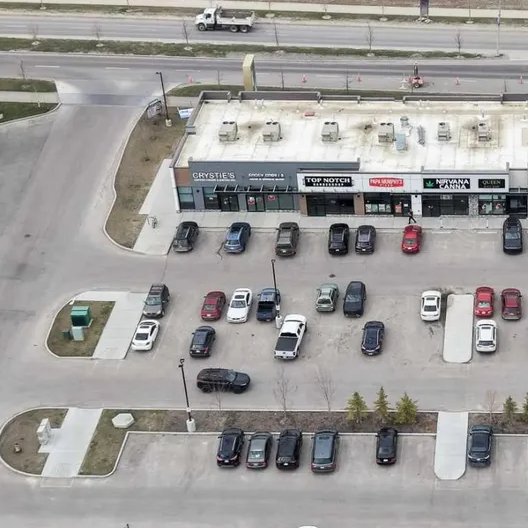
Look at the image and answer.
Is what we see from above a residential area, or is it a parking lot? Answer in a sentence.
It's a parking lot.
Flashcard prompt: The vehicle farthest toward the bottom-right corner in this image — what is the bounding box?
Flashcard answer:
[467,428,494,469]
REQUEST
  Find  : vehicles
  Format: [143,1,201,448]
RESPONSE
[142,283,169,319]
[194,369,253,395]
[216,430,245,470]
[316,283,340,315]
[276,432,304,471]
[500,290,523,321]
[420,291,443,323]
[225,225,249,253]
[194,3,254,30]
[189,328,215,359]
[256,290,281,323]
[467,428,494,469]
[311,432,341,474]
[226,290,252,324]
[201,292,226,323]
[328,227,350,255]
[474,321,498,354]
[131,318,159,354]
[473,288,496,319]
[276,227,299,254]
[501,218,525,255]
[360,321,384,357]
[355,226,377,255]
[373,427,400,468]
[341,280,366,318]
[401,227,423,255]
[173,224,198,252]
[245,431,274,471]
[277,317,305,360]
